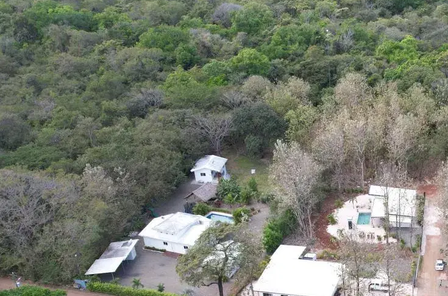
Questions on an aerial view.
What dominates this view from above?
trees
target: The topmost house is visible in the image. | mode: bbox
[191,153,228,184]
